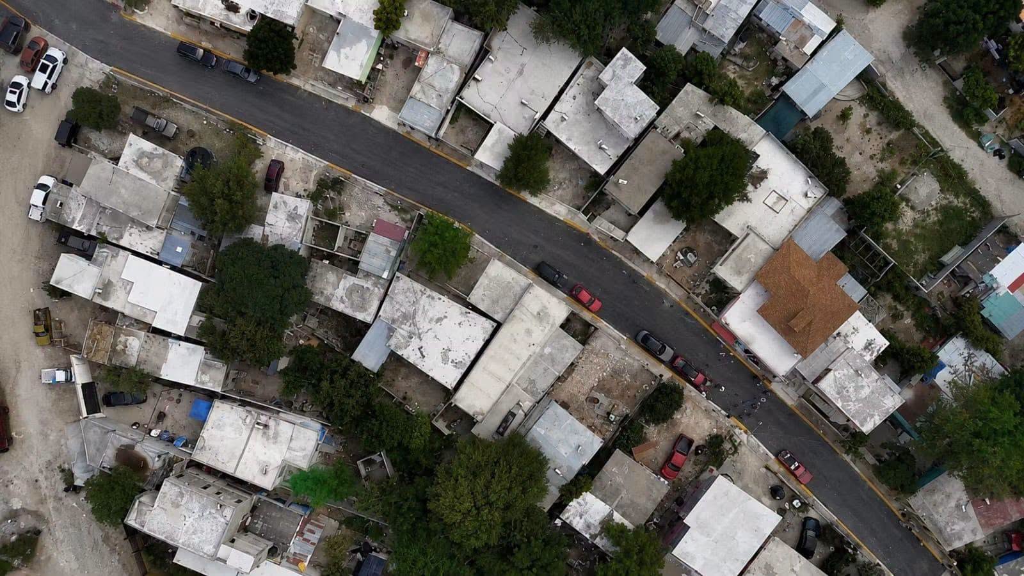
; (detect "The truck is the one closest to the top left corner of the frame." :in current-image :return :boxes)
[0,13,29,59]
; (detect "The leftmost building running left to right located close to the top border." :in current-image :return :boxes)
[170,0,262,37]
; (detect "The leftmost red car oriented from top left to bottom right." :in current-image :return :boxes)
[567,282,603,313]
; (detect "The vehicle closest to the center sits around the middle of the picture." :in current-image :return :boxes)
[532,258,569,289]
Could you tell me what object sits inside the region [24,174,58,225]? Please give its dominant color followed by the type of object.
white truck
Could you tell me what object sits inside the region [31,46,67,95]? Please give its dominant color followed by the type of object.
white truck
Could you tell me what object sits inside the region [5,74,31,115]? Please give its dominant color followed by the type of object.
white car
